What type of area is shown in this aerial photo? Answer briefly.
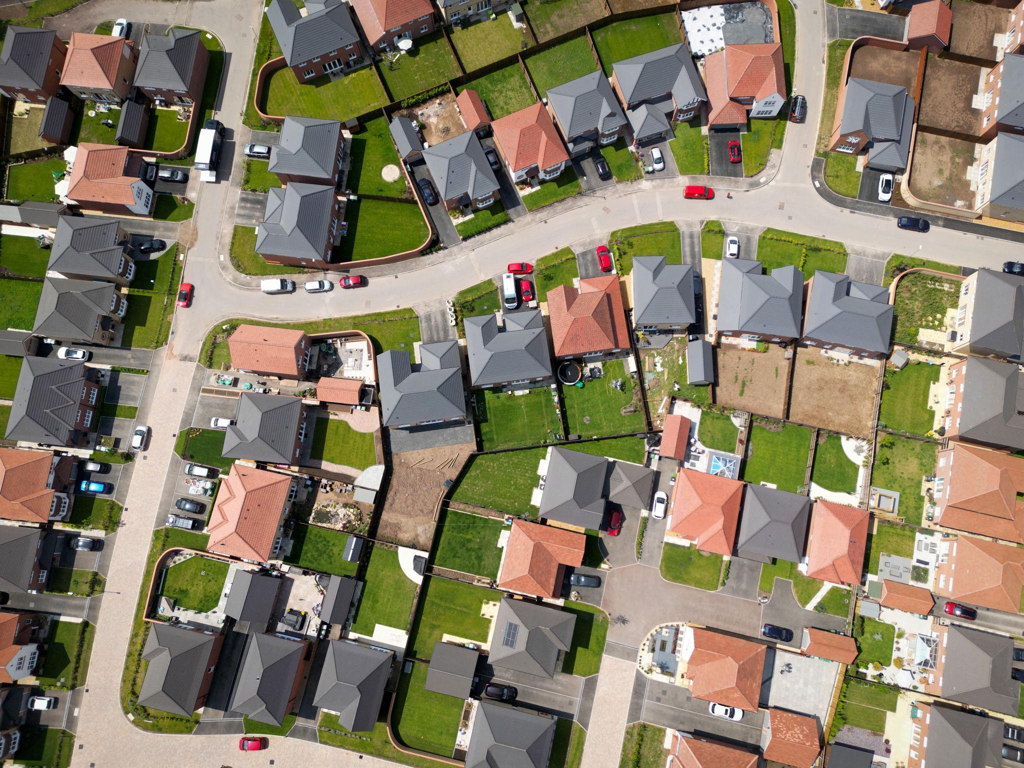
residential area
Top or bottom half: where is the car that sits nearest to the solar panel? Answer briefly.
bottom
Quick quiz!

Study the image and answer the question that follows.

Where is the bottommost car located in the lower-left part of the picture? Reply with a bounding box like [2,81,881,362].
[238,736,267,752]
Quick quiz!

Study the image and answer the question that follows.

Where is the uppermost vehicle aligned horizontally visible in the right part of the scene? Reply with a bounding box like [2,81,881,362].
[683,184,714,200]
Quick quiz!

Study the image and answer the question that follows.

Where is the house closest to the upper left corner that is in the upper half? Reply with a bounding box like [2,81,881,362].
[0,26,69,104]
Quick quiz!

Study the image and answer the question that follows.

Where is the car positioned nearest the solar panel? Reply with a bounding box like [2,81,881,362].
[485,683,518,703]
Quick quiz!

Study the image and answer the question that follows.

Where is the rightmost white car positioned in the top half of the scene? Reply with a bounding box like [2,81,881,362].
[877,172,894,203]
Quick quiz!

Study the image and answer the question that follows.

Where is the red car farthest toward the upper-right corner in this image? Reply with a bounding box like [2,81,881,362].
[729,141,742,164]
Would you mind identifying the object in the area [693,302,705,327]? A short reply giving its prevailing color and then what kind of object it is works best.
black vehicle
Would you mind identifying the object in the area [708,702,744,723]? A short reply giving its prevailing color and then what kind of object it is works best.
white car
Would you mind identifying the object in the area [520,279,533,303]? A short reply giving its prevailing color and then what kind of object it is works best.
red vehicle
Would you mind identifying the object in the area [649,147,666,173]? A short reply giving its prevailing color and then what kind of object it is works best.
white car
